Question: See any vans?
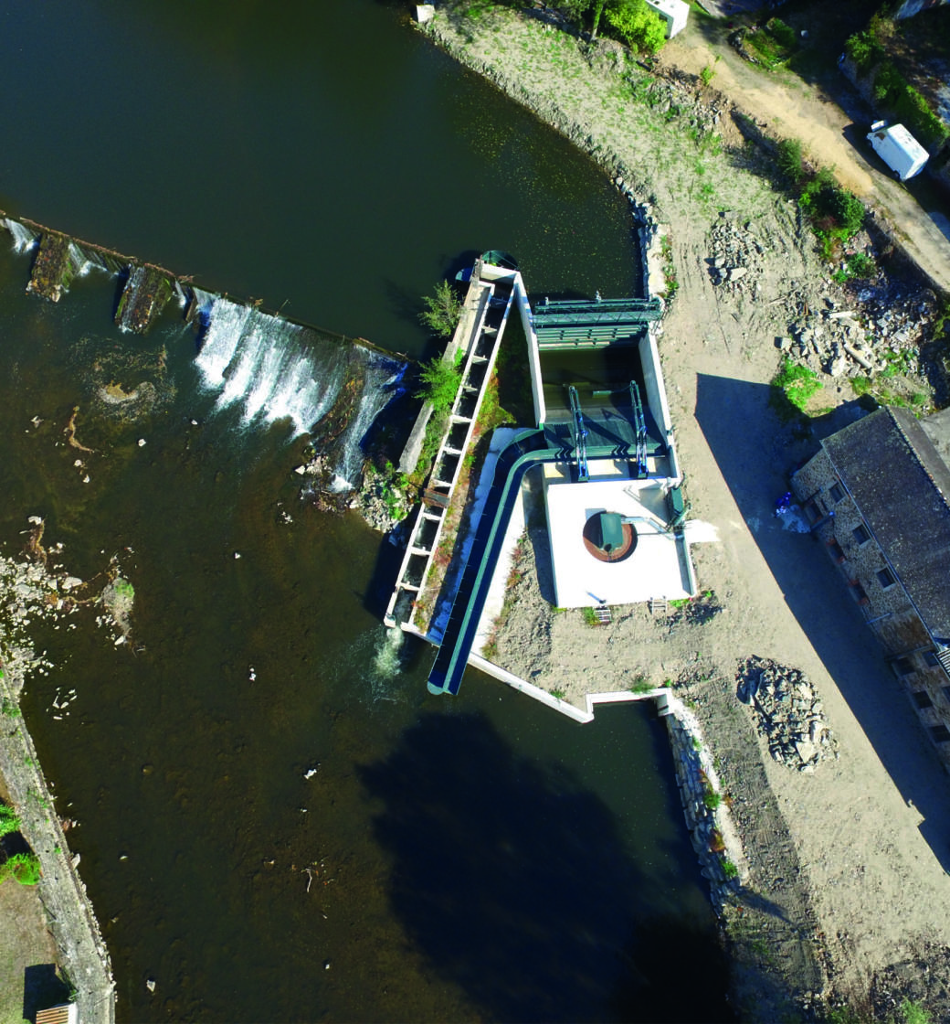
Yes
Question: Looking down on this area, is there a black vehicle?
No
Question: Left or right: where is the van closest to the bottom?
right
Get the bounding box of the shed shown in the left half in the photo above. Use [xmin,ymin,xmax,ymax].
[34,995,89,1024]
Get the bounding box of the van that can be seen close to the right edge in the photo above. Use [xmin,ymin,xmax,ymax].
[870,124,930,179]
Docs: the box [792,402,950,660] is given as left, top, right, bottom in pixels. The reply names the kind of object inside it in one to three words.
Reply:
house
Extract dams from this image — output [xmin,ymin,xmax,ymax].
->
[0,212,413,505]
